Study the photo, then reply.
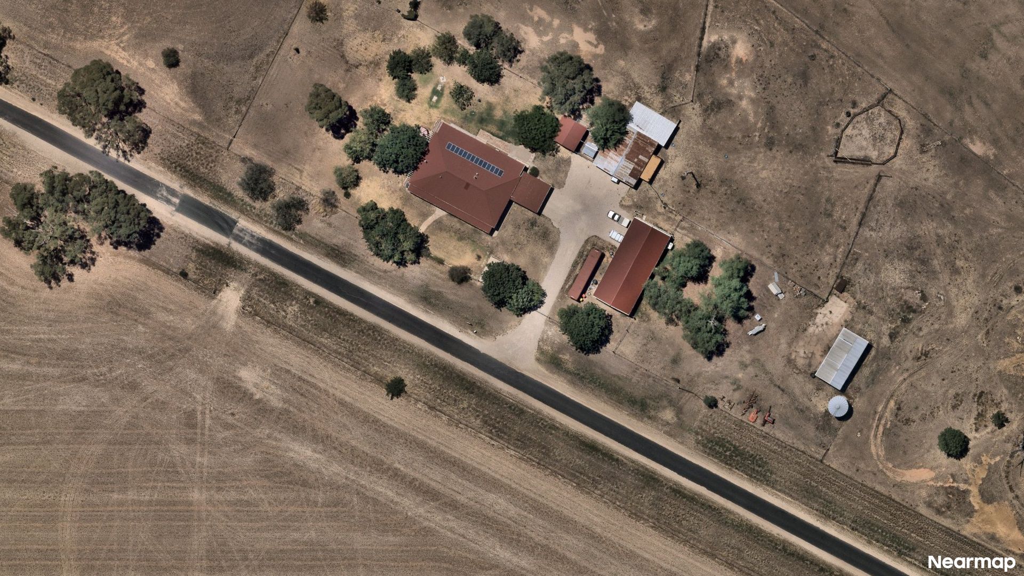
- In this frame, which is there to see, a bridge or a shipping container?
shipping container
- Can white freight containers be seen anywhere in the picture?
No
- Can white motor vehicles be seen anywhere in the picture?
Yes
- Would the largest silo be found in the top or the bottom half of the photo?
bottom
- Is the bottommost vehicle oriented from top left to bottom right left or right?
right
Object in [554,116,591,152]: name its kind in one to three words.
shed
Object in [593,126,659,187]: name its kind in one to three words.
shed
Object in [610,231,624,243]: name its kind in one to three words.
vehicle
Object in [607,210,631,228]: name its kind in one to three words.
vehicle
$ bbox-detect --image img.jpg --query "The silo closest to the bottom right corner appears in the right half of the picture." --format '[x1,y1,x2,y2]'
[827,395,850,417]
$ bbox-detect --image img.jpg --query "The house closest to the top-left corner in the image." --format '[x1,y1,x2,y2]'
[404,120,525,237]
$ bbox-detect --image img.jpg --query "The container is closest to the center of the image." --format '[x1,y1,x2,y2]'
[568,248,602,300]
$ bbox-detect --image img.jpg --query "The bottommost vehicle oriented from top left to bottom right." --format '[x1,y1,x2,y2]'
[766,280,786,302]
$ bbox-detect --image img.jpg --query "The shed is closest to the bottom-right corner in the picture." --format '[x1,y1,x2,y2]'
[815,327,869,390]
